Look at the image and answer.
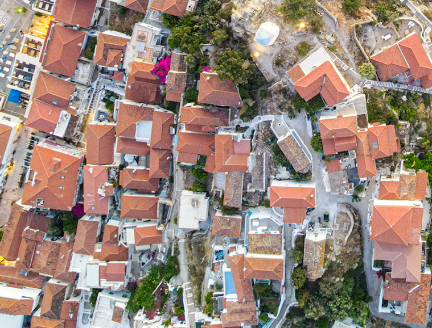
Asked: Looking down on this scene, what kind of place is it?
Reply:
residential area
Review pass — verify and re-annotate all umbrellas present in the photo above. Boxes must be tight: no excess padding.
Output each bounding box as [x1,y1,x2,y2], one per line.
[125,153,134,163]
[7,88,22,103]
